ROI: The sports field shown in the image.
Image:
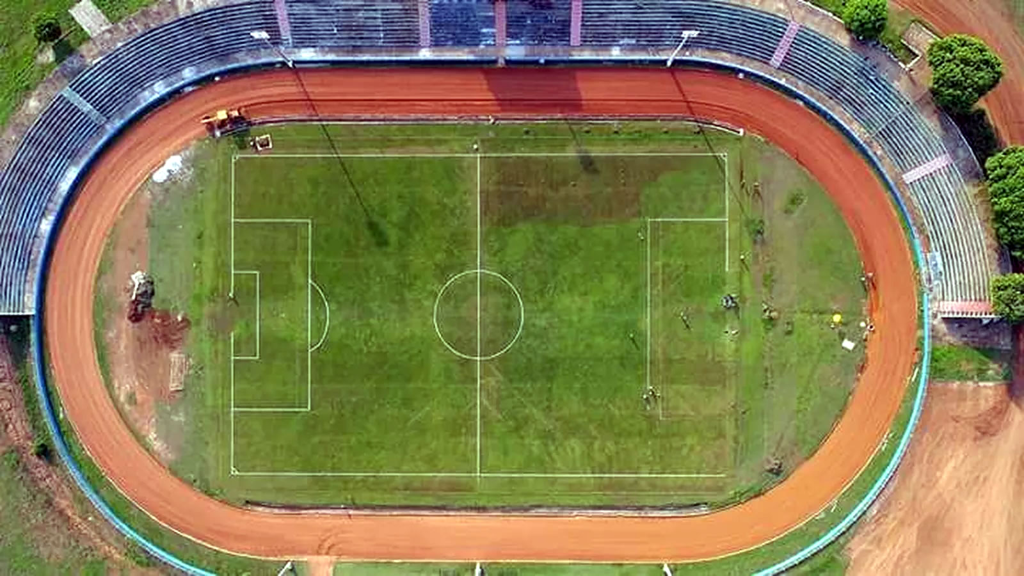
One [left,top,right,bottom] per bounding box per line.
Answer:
[225,146,734,484]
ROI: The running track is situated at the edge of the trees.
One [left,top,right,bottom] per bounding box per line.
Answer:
[45,67,918,565]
